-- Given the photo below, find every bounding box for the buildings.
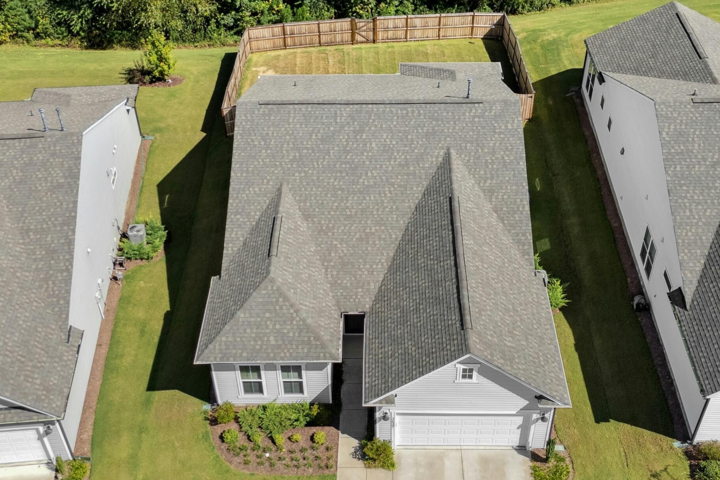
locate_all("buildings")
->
[192,61,574,448]
[0,84,146,462]
[579,0,720,442]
